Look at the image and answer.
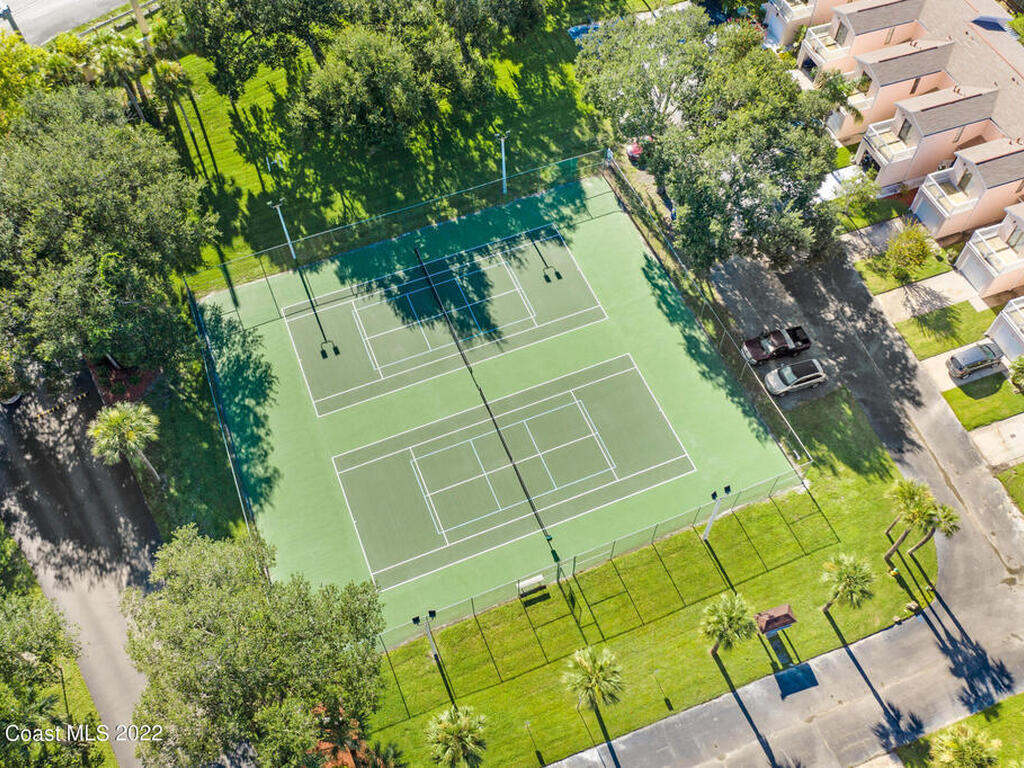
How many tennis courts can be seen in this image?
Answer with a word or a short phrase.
two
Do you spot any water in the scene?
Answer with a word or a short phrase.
No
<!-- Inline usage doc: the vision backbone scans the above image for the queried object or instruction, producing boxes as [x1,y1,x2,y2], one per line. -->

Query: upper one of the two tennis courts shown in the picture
[282,223,608,417]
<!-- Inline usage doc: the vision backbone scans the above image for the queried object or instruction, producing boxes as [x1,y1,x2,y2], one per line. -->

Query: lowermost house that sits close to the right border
[988,298,1024,366]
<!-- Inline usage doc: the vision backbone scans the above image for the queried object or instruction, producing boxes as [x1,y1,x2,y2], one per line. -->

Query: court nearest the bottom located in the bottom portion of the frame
[332,353,696,592]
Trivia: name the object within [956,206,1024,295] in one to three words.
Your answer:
house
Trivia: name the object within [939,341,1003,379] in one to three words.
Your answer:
car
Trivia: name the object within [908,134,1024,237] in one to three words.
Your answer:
house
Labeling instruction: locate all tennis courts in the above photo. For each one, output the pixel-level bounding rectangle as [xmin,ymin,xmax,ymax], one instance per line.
[332,353,696,592]
[282,223,608,417]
